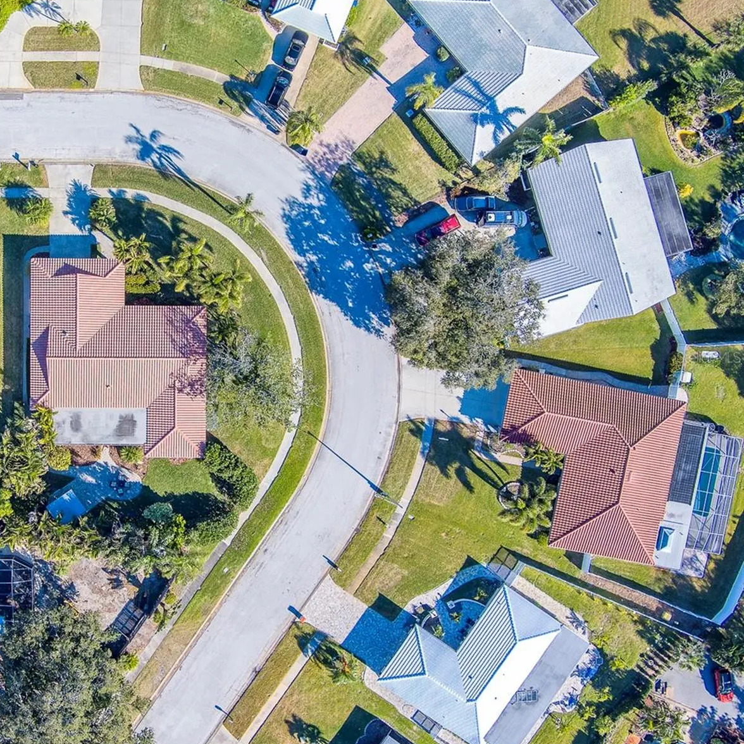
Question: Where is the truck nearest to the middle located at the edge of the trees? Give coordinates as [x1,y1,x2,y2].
[413,215,460,244]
